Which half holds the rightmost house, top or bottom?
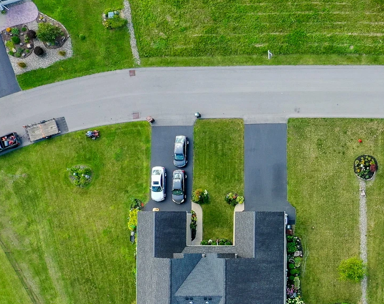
bottom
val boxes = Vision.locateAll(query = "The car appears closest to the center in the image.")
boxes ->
[171,133,189,167]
